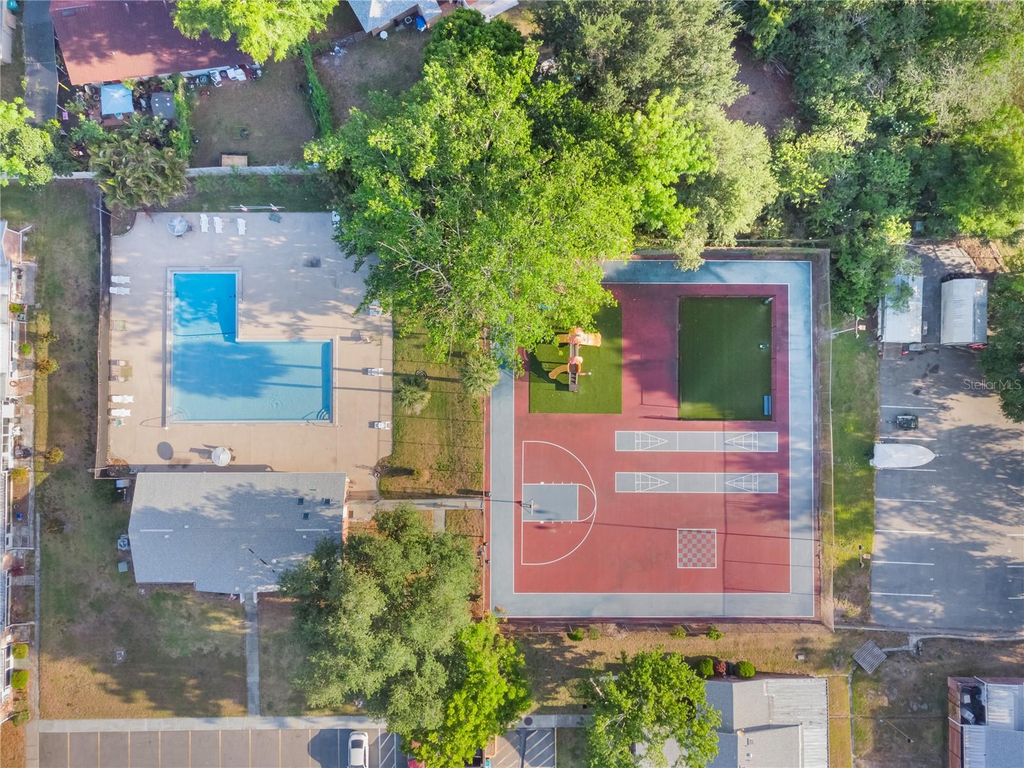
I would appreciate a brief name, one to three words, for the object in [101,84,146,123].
gazebo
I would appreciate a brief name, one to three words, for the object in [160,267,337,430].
swimming pool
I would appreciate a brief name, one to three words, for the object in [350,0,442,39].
house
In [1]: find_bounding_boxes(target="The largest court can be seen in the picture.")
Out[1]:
[484,253,821,624]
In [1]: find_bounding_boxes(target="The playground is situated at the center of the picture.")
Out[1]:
[529,296,622,413]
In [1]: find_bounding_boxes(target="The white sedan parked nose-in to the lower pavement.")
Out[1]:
[347,728,370,768]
